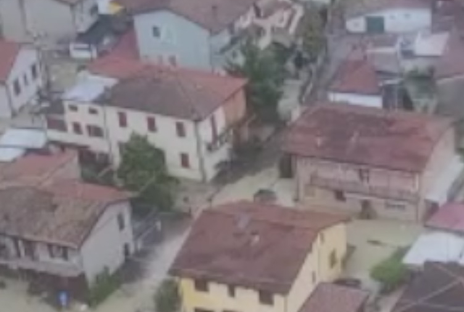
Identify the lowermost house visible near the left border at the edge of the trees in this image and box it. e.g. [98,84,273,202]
[0,177,133,295]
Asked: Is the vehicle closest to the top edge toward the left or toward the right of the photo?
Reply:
left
